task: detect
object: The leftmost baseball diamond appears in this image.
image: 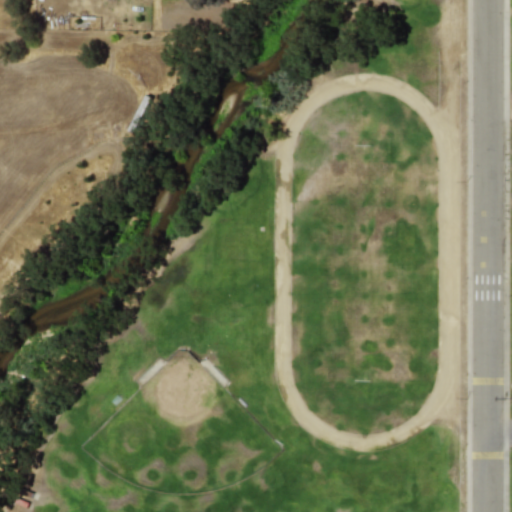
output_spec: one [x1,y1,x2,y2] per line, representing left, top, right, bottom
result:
[83,350,283,494]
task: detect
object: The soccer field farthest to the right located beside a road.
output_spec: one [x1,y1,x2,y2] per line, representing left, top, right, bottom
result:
[292,91,438,436]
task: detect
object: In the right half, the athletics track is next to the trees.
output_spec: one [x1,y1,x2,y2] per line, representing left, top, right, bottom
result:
[275,74,460,452]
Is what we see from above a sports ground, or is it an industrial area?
sports ground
